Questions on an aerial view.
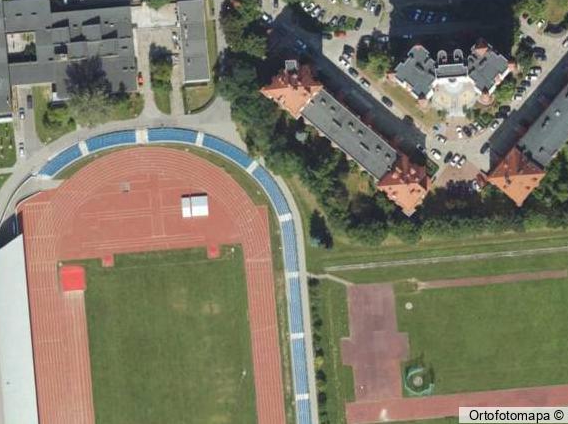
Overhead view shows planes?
No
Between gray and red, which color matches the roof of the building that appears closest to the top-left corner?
gray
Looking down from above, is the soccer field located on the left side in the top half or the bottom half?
bottom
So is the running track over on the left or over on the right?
left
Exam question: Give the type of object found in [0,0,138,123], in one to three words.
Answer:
building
